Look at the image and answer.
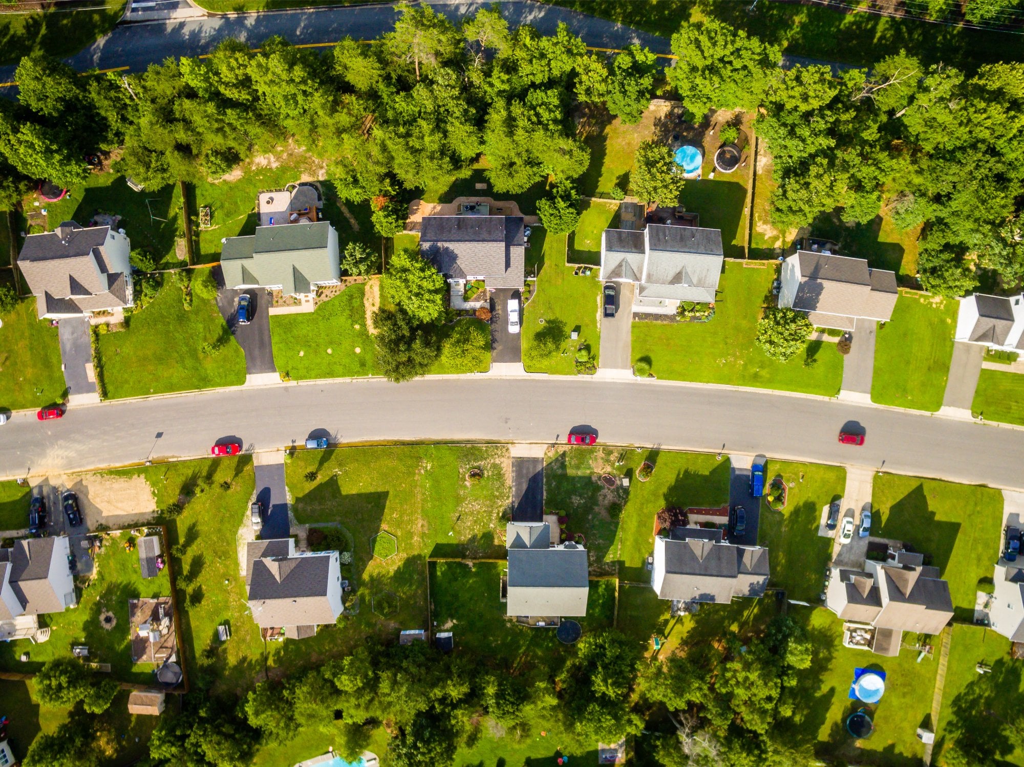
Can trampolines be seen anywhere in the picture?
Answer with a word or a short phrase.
Yes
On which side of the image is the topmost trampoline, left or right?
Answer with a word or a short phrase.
right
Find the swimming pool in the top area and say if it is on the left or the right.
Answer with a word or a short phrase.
right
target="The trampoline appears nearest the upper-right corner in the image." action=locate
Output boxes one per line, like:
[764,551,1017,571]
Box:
[716,138,747,170]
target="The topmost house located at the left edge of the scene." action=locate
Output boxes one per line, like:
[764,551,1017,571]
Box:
[17,221,140,317]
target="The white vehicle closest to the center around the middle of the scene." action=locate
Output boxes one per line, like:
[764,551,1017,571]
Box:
[507,297,520,333]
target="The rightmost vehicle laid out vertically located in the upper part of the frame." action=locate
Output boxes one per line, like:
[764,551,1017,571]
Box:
[604,283,616,318]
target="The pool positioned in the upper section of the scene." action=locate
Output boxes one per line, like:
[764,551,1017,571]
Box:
[676,142,707,175]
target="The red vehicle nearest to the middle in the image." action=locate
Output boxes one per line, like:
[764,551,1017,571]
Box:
[567,434,597,447]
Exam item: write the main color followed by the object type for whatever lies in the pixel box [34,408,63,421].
red vehicle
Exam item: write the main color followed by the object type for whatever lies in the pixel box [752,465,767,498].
blue vehicle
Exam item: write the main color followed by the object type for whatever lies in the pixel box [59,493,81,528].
black truck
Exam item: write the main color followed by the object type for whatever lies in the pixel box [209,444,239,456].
red vehicle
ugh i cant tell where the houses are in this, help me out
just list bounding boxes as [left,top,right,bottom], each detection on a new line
[780,250,898,331]
[420,215,524,290]
[238,531,340,642]
[600,224,724,303]
[0,531,76,619]
[826,551,954,657]
[984,556,1024,661]
[654,527,770,616]
[501,519,589,628]
[17,221,140,317]
[0,739,14,767]
[954,295,1024,354]
[219,221,340,298]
